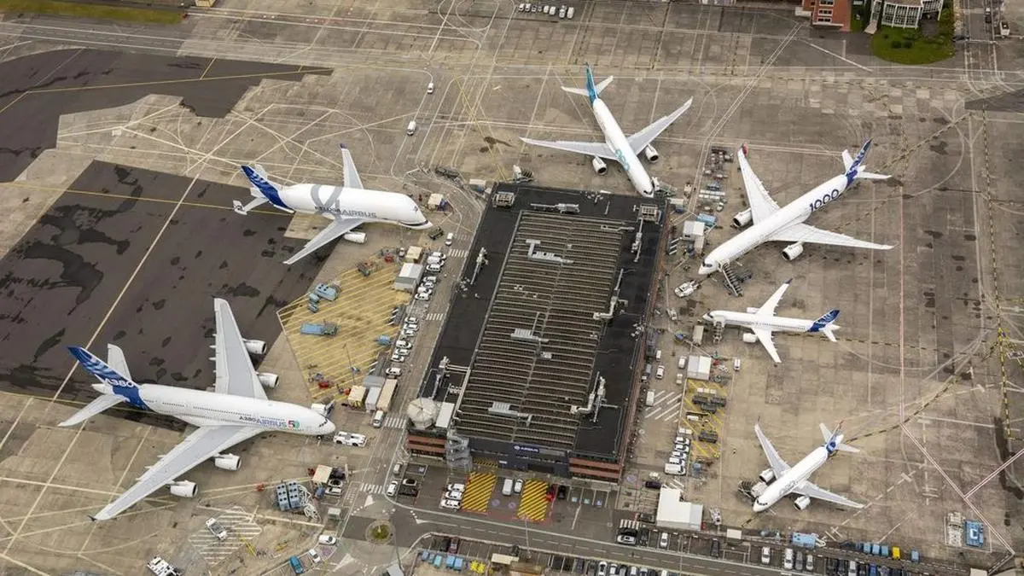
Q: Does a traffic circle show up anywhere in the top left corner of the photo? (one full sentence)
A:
No, looking in the top left corner of the photo, there is no traffic circle.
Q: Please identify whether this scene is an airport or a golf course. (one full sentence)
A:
The area seen from above is an airport.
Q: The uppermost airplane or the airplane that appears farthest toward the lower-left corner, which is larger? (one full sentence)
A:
The uppermost airplane is smaller than the airplane that appears farthest toward the lower-left corner.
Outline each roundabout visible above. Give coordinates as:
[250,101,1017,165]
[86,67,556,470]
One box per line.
[364,519,396,546]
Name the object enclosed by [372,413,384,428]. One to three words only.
vehicle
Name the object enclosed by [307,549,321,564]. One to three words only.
car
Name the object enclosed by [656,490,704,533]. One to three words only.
tent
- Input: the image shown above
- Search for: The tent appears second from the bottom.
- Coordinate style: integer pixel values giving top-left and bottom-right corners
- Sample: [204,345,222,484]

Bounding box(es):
[685,356,713,384]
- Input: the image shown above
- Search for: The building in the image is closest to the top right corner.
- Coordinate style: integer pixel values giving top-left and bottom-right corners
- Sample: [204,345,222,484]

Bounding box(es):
[882,0,948,33]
